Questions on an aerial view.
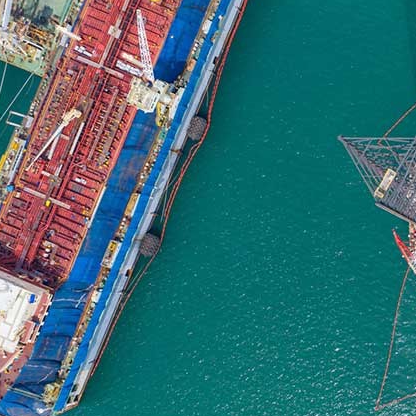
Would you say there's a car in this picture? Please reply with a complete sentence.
No, there is no car in the image.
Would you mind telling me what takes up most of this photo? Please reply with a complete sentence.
Most of the picture is covered by water.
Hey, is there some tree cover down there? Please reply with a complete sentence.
No, the picture contains no tree cover.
